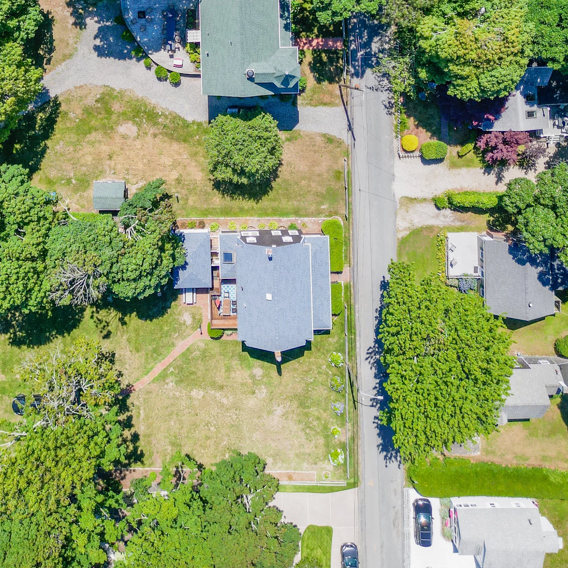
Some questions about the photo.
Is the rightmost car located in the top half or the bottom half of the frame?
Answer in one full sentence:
The rightmost car sits in the bottom half of the picture.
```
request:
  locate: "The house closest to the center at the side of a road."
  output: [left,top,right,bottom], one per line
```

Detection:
[210,227,333,362]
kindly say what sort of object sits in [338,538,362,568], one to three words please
car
